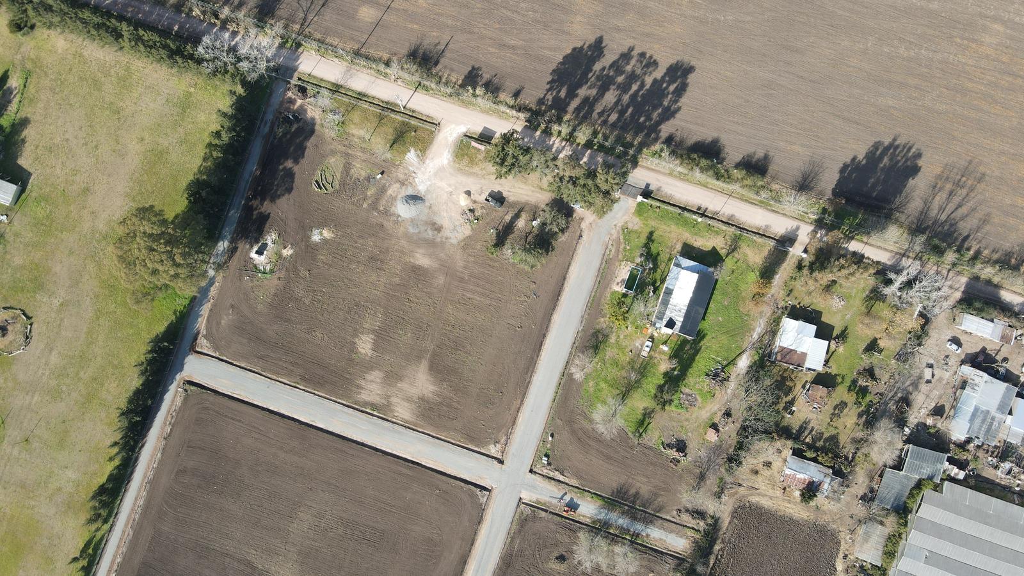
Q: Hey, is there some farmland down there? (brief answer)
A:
Yes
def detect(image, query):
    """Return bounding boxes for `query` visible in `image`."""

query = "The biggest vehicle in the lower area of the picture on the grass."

[640,339,653,359]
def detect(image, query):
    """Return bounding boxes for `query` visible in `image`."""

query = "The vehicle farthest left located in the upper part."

[483,192,502,208]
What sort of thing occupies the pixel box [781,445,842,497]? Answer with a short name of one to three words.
shed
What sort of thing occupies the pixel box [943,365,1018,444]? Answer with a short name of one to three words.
house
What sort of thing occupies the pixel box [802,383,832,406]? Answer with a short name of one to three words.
shed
